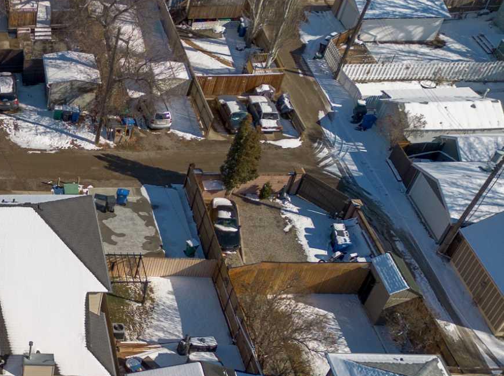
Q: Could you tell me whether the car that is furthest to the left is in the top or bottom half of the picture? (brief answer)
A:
top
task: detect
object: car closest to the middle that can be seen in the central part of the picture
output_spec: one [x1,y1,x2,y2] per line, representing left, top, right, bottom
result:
[208,197,247,248]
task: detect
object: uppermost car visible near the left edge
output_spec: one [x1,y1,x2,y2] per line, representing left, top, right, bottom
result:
[0,73,20,111]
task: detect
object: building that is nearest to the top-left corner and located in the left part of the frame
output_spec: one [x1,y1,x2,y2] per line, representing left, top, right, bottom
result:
[42,46,102,106]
